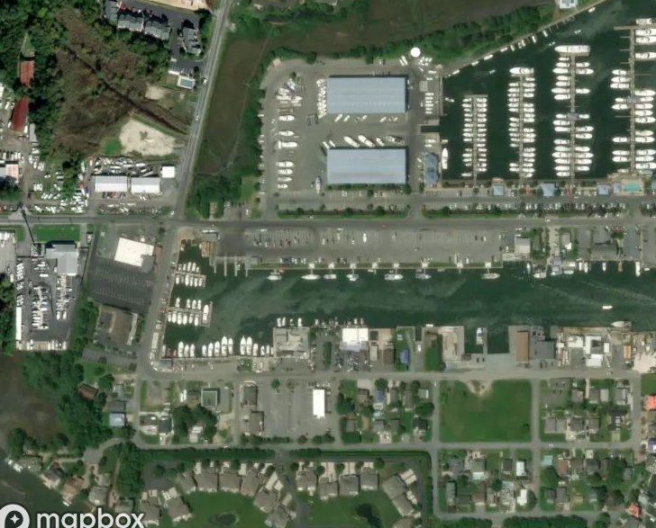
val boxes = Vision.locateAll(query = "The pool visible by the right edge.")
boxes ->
[622,180,644,195]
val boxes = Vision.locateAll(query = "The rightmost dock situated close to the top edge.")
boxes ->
[614,24,656,175]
